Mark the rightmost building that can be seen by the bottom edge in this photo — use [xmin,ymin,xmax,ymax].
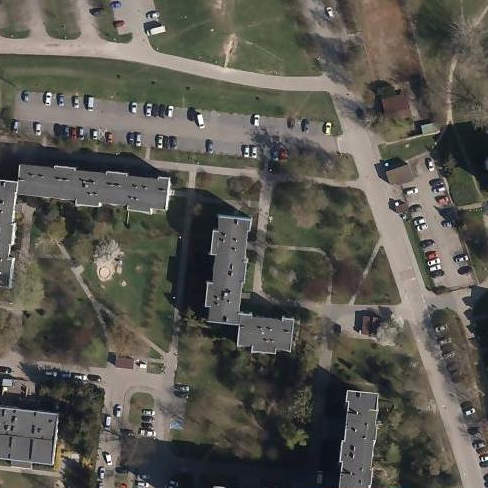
[339,391,379,488]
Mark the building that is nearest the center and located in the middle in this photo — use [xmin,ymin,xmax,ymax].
[206,216,295,355]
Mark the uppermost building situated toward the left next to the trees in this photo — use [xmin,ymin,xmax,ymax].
[18,165,172,216]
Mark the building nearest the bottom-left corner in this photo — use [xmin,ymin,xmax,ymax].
[0,407,60,469]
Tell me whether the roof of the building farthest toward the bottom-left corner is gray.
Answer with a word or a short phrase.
Yes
